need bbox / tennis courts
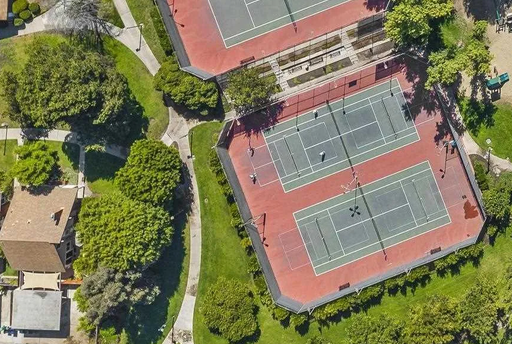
[228,57,454,217]
[166,0,388,75]
[252,139,483,307]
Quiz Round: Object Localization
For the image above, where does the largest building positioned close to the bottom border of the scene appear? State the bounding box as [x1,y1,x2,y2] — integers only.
[12,287,71,331]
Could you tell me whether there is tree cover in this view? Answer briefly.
Yes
